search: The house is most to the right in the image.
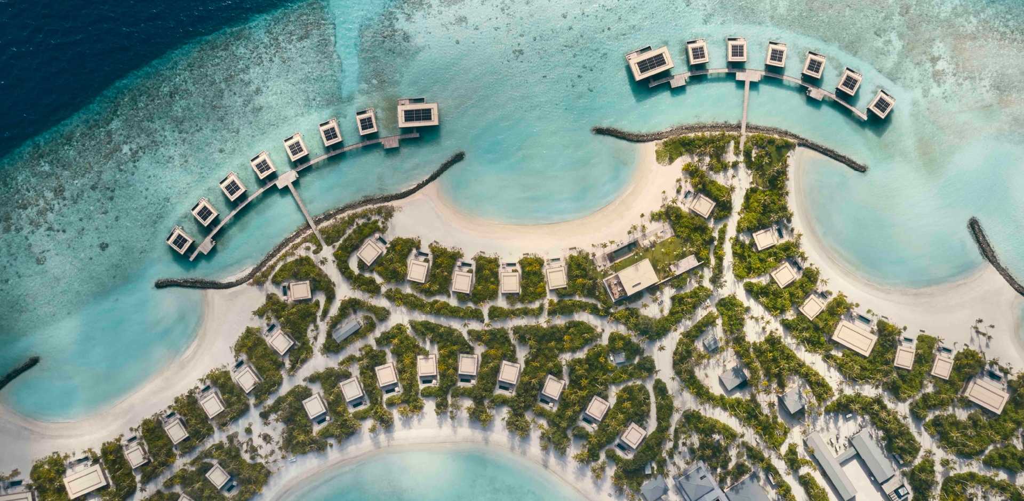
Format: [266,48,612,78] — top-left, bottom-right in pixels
[961,368,1011,414]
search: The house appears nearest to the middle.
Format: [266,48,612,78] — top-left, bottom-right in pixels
[500,261,521,293]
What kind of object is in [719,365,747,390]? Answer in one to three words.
shed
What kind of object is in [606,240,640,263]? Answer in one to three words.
swimming pool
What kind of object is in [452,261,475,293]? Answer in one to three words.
house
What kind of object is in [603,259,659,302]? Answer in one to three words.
building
